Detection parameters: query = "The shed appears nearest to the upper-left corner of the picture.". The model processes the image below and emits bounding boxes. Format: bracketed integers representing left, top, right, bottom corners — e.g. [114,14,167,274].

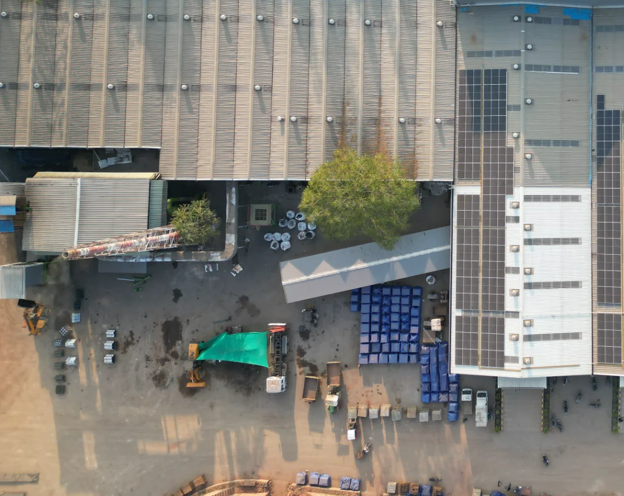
[0,0,166,148]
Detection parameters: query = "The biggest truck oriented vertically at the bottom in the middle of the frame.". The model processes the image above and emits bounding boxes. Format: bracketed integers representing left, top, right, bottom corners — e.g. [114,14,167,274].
[262,326,285,396]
